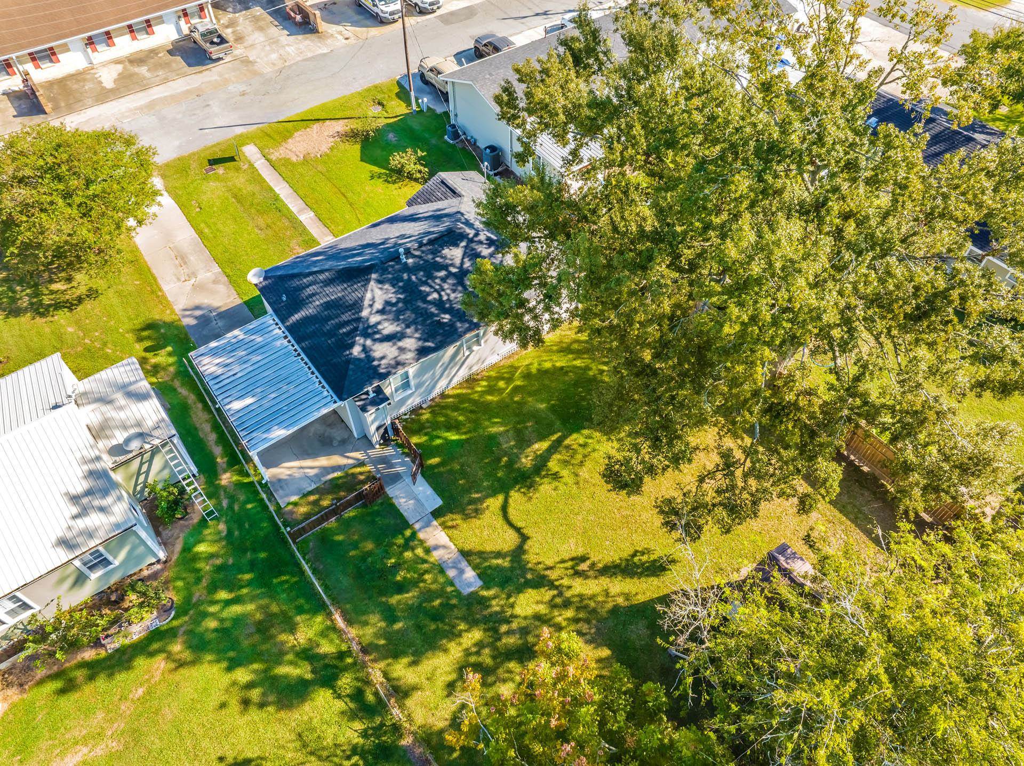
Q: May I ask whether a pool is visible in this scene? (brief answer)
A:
No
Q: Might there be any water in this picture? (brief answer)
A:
No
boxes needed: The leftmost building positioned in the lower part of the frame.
[0,349,205,648]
